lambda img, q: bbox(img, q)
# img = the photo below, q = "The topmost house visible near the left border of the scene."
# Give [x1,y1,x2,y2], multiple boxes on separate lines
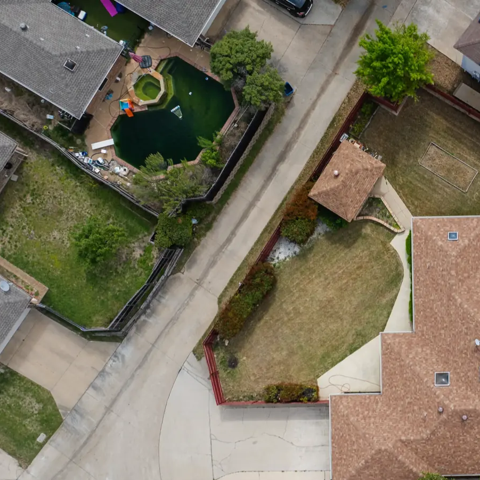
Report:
[0,0,130,123]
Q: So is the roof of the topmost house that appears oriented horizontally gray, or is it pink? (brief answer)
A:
gray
